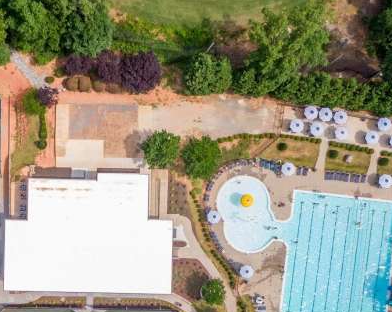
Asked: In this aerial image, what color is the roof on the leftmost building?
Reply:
white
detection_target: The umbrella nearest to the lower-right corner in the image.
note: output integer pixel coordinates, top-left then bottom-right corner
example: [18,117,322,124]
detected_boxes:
[376,174,390,188]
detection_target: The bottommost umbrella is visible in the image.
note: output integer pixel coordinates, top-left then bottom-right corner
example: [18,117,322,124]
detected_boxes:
[238,264,252,278]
